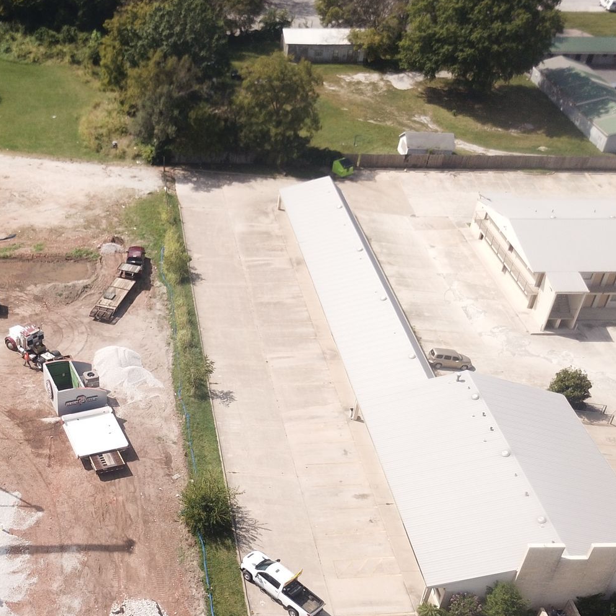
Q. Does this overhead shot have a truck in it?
Yes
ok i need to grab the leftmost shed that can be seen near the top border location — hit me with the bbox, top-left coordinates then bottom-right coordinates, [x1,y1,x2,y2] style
[279,27,371,62]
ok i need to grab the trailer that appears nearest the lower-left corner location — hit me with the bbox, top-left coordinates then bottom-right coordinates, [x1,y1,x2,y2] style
[88,452,127,478]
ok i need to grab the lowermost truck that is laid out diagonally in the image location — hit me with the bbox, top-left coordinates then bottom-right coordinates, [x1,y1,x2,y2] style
[241,553,328,616]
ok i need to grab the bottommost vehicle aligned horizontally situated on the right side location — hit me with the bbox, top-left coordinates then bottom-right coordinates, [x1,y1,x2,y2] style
[425,344,475,367]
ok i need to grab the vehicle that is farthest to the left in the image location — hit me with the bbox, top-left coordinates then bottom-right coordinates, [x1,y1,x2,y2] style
[0,318,59,377]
